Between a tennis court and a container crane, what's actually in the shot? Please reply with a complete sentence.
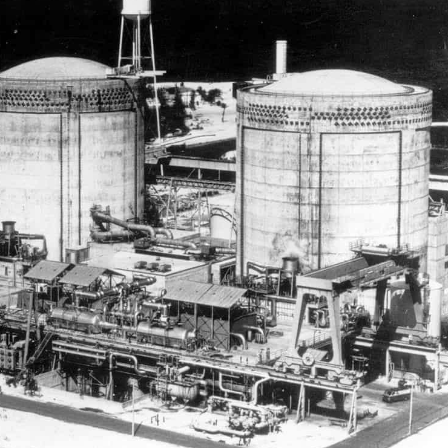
I can see a container crane in this picture.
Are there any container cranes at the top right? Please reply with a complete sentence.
No, I see no container crane at the top right.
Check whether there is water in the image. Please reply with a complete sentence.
Yes, there is water in the image.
